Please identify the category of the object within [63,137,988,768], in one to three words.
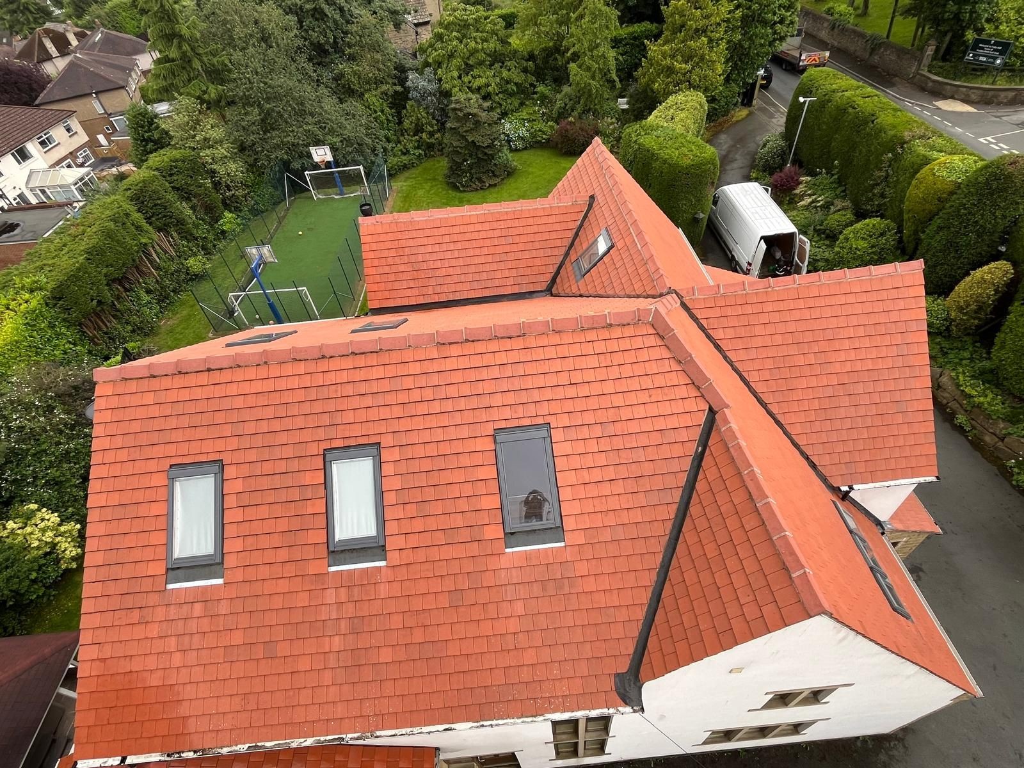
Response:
house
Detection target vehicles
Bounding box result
[778,23,829,68]
[713,183,826,278]
[743,60,779,84]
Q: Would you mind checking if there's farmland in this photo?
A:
No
